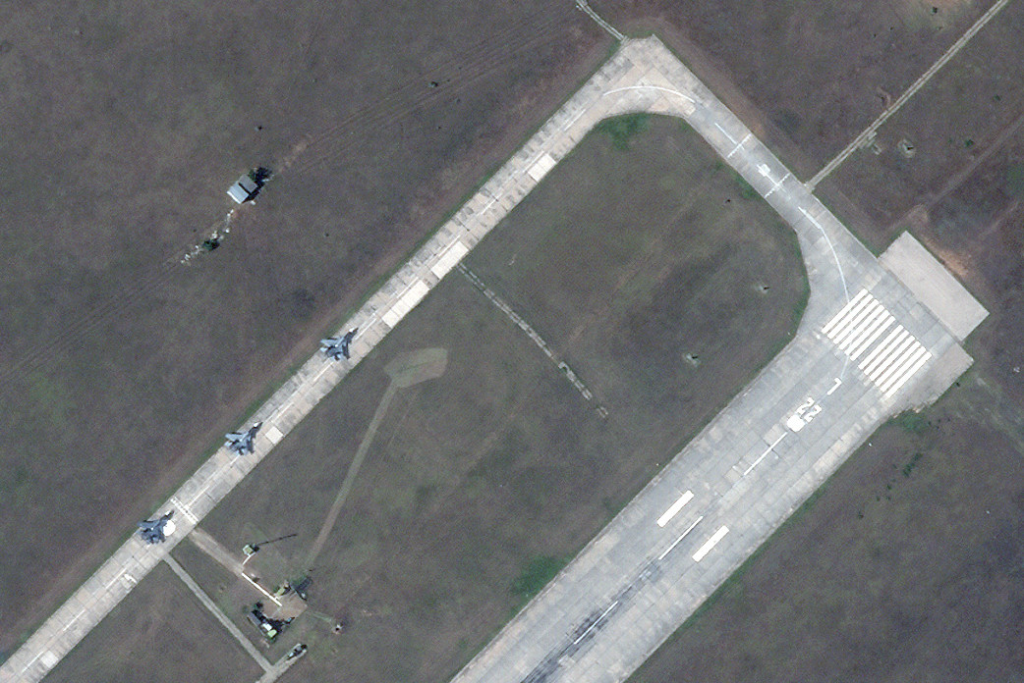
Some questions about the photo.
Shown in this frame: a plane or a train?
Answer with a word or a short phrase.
plane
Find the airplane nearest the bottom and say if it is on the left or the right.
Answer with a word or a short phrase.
left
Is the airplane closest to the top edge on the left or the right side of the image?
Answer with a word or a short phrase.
left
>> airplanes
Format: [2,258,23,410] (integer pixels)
[318,327,354,364]
[135,511,169,547]
[221,422,258,460]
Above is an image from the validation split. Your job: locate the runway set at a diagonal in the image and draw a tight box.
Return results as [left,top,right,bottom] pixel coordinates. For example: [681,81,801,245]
[452,258,955,683]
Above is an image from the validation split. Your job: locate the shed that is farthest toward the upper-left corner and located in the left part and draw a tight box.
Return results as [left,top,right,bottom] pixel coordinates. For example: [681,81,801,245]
[227,174,257,204]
